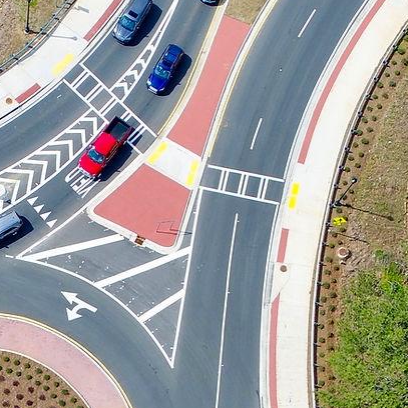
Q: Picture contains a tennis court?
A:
No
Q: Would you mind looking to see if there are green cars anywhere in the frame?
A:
No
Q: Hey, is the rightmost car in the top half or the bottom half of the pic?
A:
top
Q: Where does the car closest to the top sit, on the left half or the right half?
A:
left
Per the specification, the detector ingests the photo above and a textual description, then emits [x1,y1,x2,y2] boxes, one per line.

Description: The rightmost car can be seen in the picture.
[149,41,184,90]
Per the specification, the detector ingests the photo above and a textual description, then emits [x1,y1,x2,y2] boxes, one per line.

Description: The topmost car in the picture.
[116,0,151,38]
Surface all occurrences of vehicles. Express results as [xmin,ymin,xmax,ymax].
[116,0,151,38]
[82,112,133,171]
[0,209,22,237]
[149,41,184,90]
